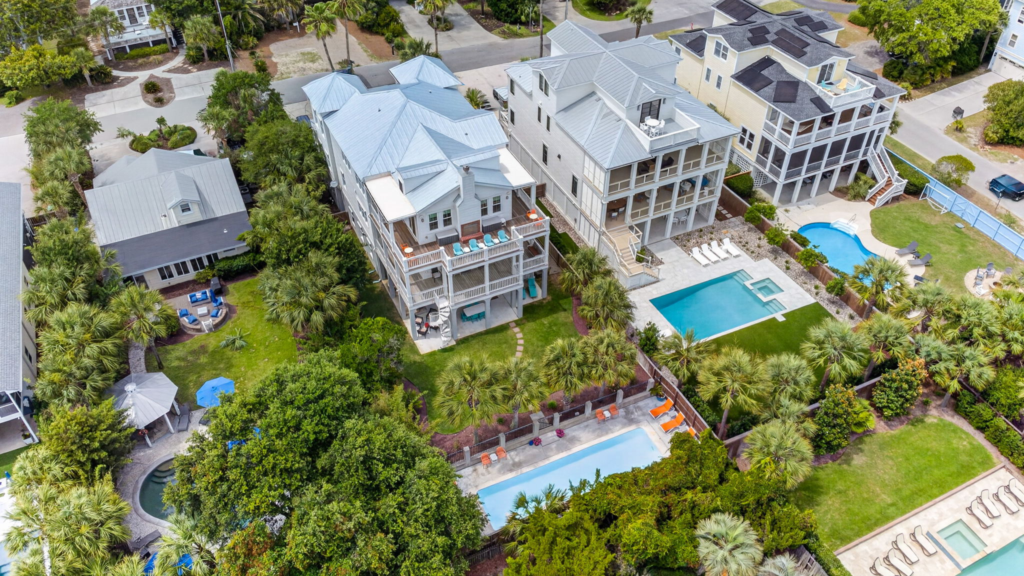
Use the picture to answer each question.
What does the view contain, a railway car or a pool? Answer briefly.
pool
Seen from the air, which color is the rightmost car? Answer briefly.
blue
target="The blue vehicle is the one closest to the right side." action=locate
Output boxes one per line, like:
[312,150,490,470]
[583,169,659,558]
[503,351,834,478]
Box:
[995,173,1024,206]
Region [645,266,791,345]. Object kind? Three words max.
swimming pool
